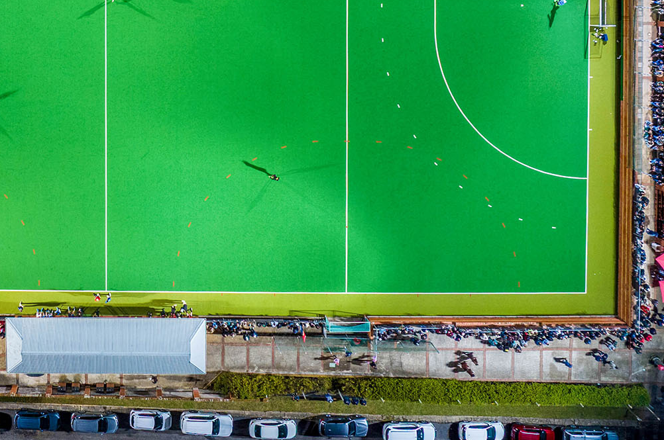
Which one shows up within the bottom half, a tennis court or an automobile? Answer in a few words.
automobile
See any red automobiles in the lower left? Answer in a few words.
No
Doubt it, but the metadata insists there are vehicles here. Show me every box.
[14,406,61,434]
[181,411,233,439]
[382,419,437,440]
[71,410,119,435]
[248,416,297,440]
[508,421,556,440]
[130,406,172,433]
[457,419,504,440]
[317,412,369,440]
[560,425,620,440]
